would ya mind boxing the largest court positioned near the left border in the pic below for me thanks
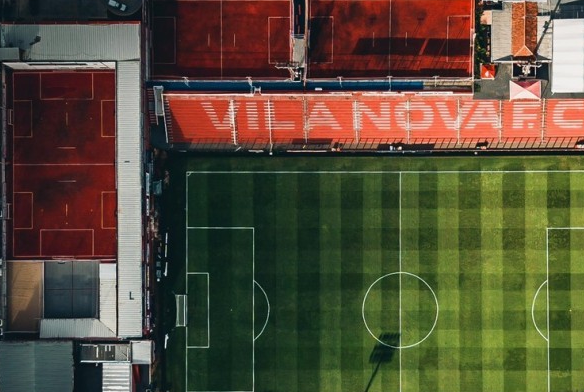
[9,65,117,258]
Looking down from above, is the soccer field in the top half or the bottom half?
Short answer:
bottom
